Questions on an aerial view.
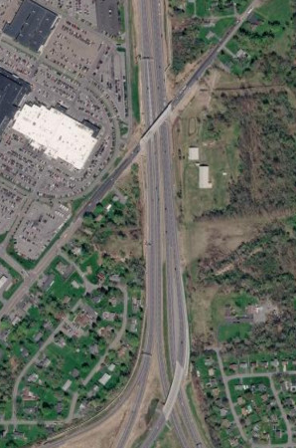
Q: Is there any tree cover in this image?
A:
Yes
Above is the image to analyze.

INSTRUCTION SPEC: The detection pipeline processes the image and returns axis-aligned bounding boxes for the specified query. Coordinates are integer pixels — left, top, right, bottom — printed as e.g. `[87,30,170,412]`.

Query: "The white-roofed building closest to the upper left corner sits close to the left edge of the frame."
[13,103,101,168]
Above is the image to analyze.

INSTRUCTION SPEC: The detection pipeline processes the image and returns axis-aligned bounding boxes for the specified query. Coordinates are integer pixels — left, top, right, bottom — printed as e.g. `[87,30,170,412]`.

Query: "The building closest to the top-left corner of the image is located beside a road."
[2,0,61,52]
